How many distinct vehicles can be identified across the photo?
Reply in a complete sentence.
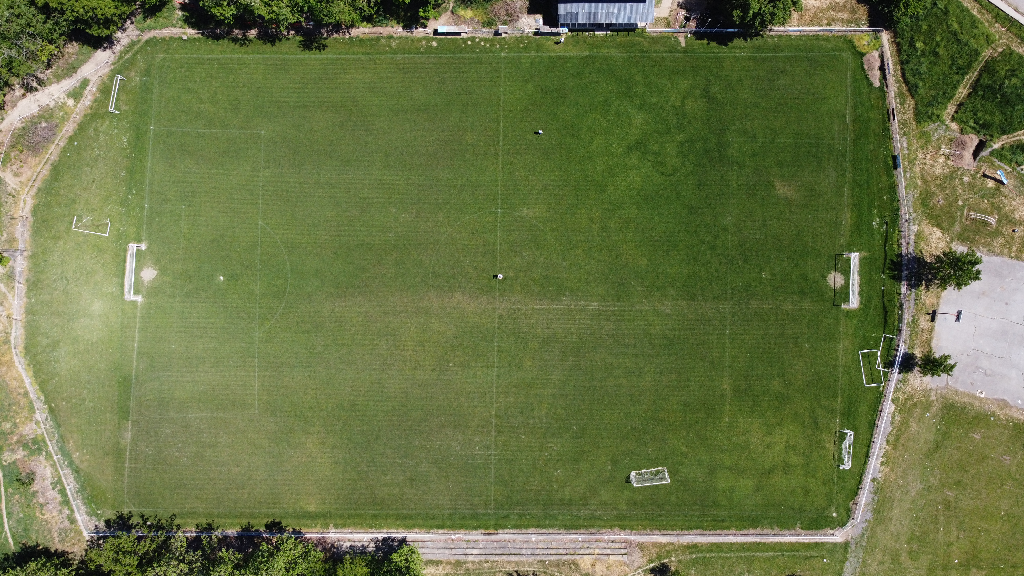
The count of vehicles is 0.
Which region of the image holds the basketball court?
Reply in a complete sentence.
The basketball court is in the right part of the image.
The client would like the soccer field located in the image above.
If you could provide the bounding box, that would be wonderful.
[23,32,902,532]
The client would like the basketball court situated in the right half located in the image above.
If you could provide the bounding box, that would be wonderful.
[929,247,1024,406]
